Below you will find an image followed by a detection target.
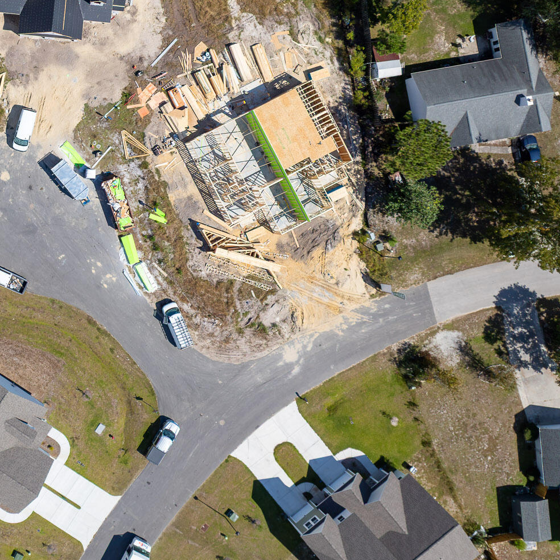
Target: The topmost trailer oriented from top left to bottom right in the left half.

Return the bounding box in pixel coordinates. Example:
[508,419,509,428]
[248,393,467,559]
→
[41,151,89,201]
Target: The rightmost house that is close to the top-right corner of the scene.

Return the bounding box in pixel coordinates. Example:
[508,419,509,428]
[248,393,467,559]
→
[401,20,553,151]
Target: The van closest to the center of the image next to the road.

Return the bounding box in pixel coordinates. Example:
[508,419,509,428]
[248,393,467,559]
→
[162,300,196,351]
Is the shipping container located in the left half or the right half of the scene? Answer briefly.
left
